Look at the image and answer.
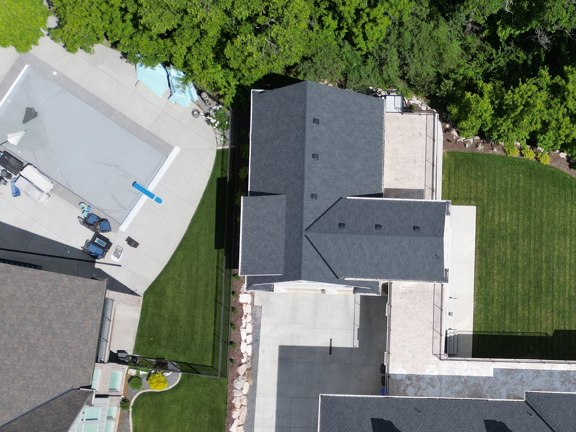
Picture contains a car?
No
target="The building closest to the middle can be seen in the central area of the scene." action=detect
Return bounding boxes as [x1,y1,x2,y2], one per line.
[238,80,453,298]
